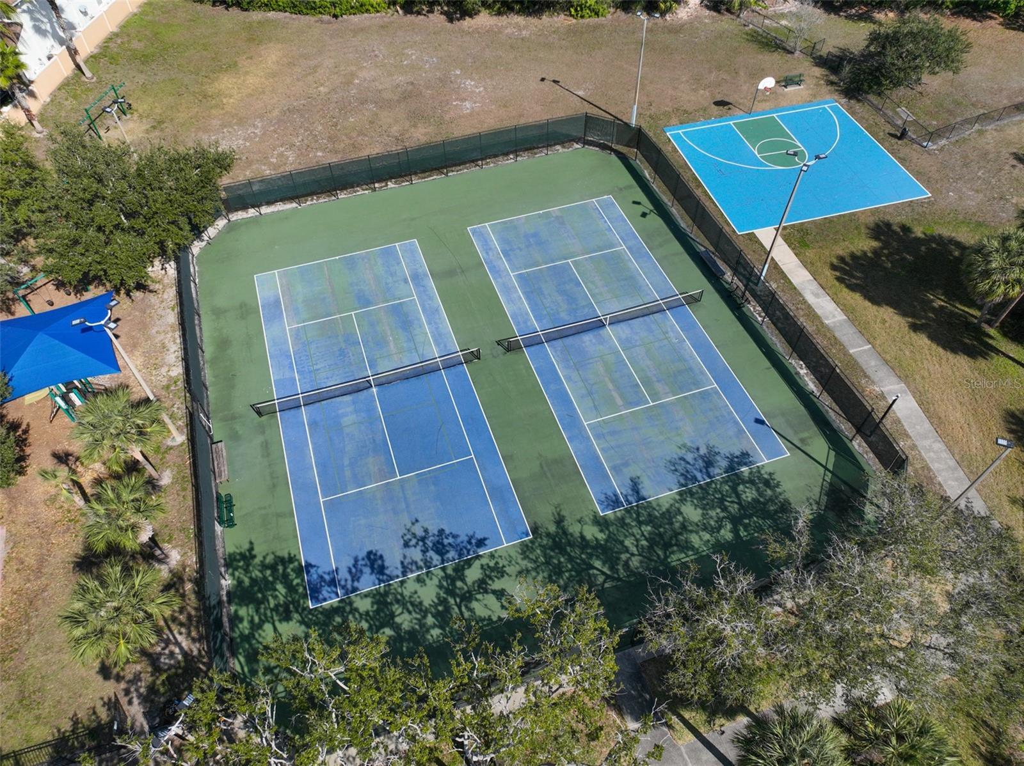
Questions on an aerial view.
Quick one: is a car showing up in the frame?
No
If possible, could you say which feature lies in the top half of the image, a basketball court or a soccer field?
basketball court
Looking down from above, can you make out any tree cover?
Yes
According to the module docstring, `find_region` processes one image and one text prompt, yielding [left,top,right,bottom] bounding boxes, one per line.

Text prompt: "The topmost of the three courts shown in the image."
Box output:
[663,98,934,234]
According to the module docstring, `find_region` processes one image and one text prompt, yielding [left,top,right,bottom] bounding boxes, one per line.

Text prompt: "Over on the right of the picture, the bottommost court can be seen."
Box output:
[468,196,788,514]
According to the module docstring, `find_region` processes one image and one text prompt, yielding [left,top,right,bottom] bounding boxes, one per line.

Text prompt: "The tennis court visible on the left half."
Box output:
[256,239,531,606]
